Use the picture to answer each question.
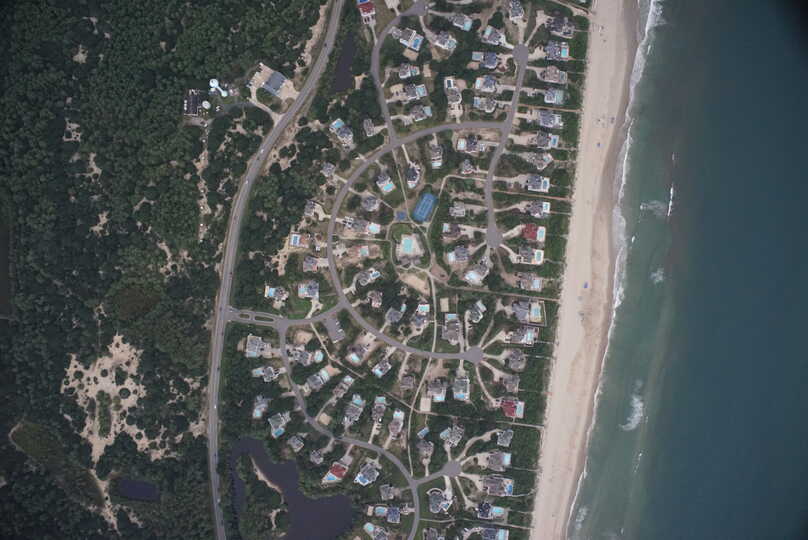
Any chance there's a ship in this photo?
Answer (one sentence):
No, I can't see a single ship in this photo.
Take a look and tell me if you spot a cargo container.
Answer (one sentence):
No, there's no cargo container here.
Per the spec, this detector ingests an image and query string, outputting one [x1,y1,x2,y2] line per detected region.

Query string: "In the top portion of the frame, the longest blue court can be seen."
[412,191,439,223]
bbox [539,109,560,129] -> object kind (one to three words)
house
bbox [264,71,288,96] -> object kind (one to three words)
building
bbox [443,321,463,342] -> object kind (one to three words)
house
